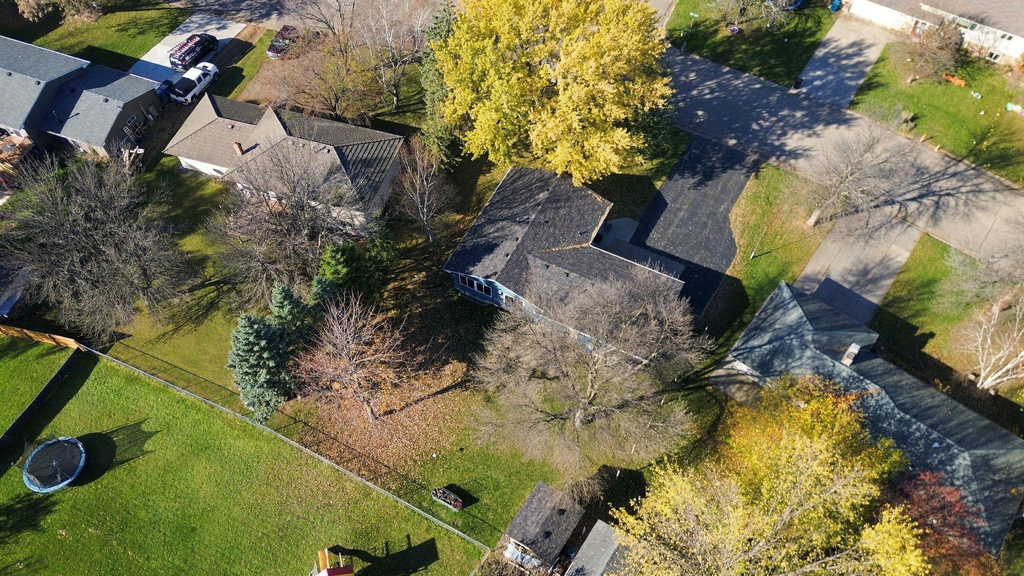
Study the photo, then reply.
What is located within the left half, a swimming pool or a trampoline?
trampoline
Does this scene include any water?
No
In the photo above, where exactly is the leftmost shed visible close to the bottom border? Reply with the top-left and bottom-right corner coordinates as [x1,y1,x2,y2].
[505,481,586,570]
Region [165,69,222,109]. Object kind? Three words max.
truck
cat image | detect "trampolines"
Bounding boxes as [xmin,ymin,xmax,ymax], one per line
[4,425,88,496]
